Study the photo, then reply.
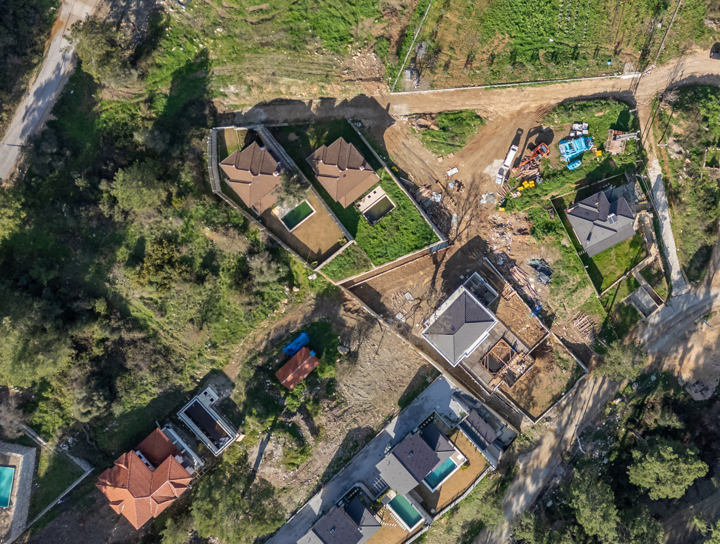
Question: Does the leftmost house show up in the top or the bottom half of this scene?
bottom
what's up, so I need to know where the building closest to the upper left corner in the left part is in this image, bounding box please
[219,142,289,213]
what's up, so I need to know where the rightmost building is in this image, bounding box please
[567,187,636,257]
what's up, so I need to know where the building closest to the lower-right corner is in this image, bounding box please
[450,389,516,467]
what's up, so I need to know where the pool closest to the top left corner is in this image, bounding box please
[273,199,316,232]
